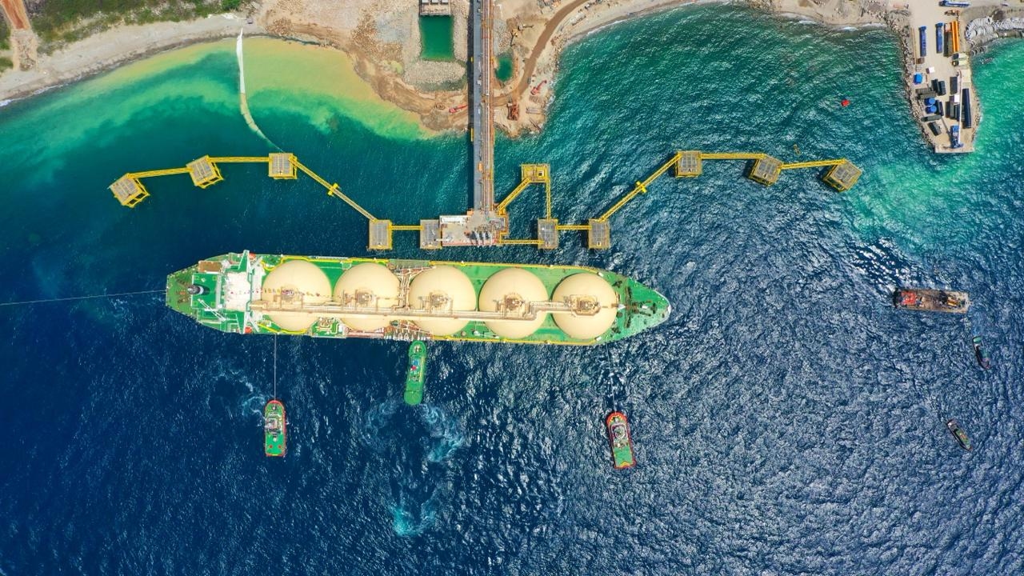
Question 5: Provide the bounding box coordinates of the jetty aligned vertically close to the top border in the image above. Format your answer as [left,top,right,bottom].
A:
[471,0,495,210]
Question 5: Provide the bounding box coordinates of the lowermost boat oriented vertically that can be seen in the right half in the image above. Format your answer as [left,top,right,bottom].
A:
[607,411,635,471]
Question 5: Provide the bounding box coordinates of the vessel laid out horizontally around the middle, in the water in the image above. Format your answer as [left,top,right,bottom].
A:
[166,250,671,345]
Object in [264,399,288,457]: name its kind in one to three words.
boat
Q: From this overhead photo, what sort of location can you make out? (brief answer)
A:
port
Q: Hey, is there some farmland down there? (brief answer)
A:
No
